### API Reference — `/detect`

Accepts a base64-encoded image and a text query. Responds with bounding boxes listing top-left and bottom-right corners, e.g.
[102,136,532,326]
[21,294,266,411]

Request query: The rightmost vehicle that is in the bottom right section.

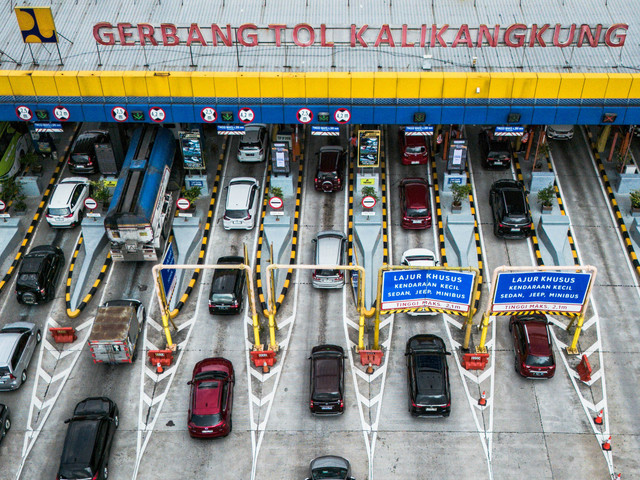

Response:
[509,318,554,380]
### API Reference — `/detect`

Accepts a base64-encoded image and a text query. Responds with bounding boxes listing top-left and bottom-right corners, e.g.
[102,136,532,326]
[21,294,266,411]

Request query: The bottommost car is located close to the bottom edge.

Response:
[305,455,355,480]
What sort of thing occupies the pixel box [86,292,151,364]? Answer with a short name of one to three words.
truck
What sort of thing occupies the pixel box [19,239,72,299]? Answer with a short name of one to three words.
car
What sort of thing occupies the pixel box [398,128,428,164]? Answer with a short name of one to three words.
car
